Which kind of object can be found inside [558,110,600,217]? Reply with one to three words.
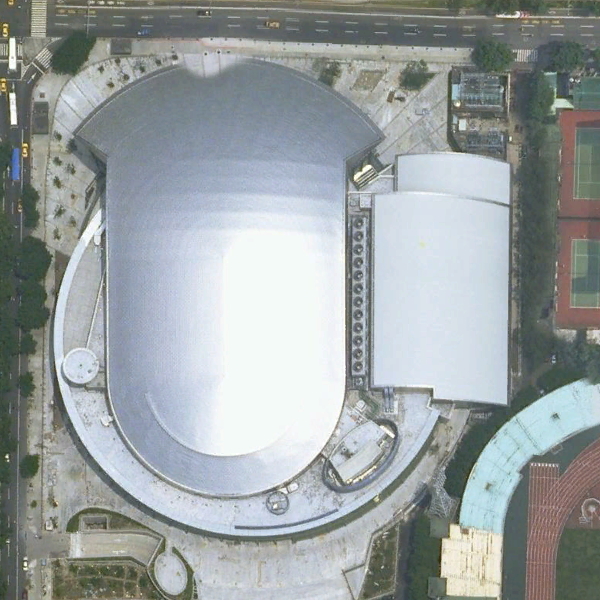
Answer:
tennis court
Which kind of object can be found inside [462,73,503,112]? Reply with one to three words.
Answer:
house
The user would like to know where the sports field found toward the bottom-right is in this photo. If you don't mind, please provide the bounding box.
[558,478,600,600]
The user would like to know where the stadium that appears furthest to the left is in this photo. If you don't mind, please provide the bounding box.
[49,54,443,545]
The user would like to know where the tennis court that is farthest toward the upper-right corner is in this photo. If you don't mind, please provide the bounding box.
[574,77,600,109]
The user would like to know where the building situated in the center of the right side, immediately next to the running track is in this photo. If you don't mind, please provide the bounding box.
[371,152,511,419]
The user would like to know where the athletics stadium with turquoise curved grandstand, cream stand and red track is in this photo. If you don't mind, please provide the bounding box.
[441,375,600,600]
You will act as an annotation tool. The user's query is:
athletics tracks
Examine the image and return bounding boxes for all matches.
[526,439,600,600]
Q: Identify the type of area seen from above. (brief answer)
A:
sports ground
